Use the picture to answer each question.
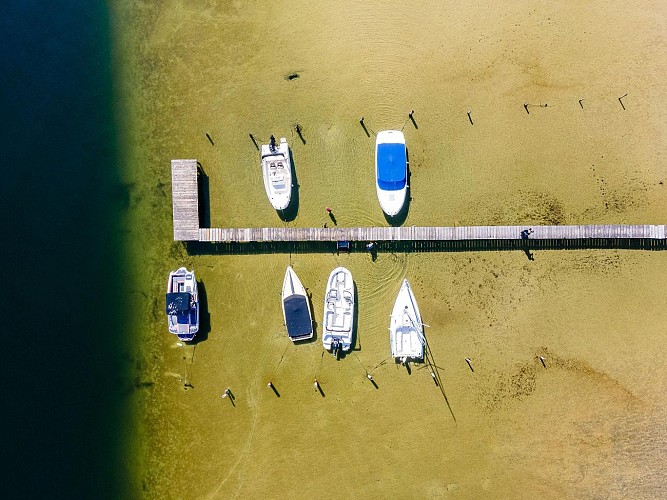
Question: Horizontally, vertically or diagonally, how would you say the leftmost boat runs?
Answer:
vertically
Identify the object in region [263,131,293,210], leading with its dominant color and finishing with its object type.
white boat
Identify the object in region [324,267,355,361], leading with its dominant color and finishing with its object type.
white boat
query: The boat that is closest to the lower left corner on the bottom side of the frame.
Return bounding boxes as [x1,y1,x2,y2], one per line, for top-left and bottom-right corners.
[168,268,199,340]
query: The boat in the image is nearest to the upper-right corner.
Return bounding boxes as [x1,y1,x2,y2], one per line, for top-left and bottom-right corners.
[376,131,406,218]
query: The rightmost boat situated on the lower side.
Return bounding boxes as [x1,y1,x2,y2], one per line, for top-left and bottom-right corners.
[390,279,429,364]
